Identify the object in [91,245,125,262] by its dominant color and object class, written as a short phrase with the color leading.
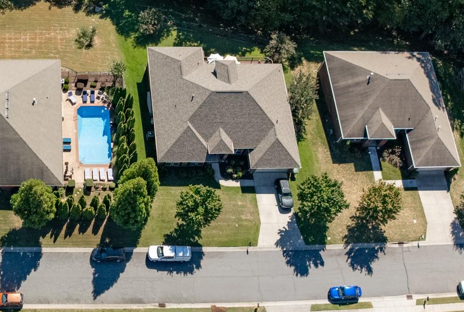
black car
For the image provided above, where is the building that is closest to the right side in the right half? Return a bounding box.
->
[320,52,462,173]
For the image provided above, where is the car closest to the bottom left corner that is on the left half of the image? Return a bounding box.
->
[0,289,24,308]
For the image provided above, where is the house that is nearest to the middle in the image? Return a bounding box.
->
[147,47,301,173]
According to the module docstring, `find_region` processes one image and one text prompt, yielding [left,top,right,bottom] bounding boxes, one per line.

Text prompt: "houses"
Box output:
[0,59,64,191]
[320,52,462,173]
[147,47,301,173]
